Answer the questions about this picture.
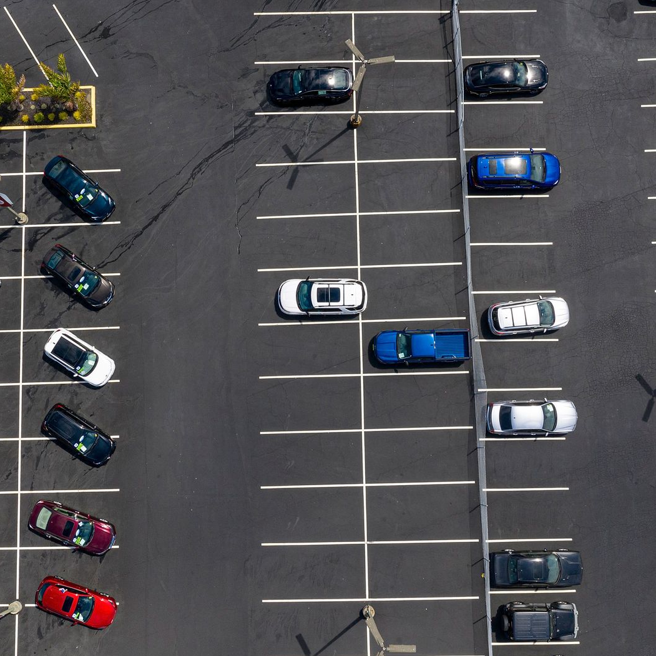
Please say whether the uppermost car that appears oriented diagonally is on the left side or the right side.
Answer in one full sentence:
It is on the left.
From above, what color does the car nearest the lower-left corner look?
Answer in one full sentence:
From above, the car nearest the lower-left corner appears red.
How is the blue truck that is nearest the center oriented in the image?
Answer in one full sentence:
What the image shows is the blue truck that is nearest the center lying from left to right.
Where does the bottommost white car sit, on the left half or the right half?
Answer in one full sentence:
The bottommost white car appears in the right half of the scene.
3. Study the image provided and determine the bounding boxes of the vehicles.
[40,403,115,467]
[467,149,560,191]
[491,548,582,591]
[373,326,472,370]
[268,64,353,105]
[464,55,547,99]
[485,396,576,439]
[43,154,115,222]
[486,294,569,336]
[41,243,113,309]
[44,327,113,386]
[278,276,367,318]
[35,574,117,630]
[28,500,116,555]
[499,600,580,644]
